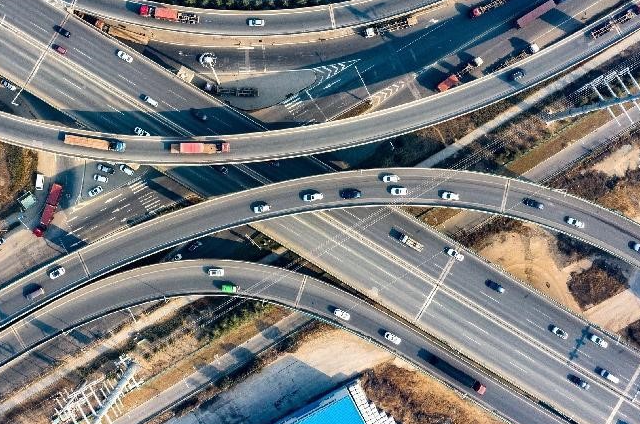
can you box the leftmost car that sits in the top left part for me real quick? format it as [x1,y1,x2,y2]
[2,78,17,90]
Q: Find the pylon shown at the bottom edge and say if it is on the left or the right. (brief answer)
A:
left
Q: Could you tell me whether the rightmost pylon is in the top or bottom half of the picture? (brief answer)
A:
top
